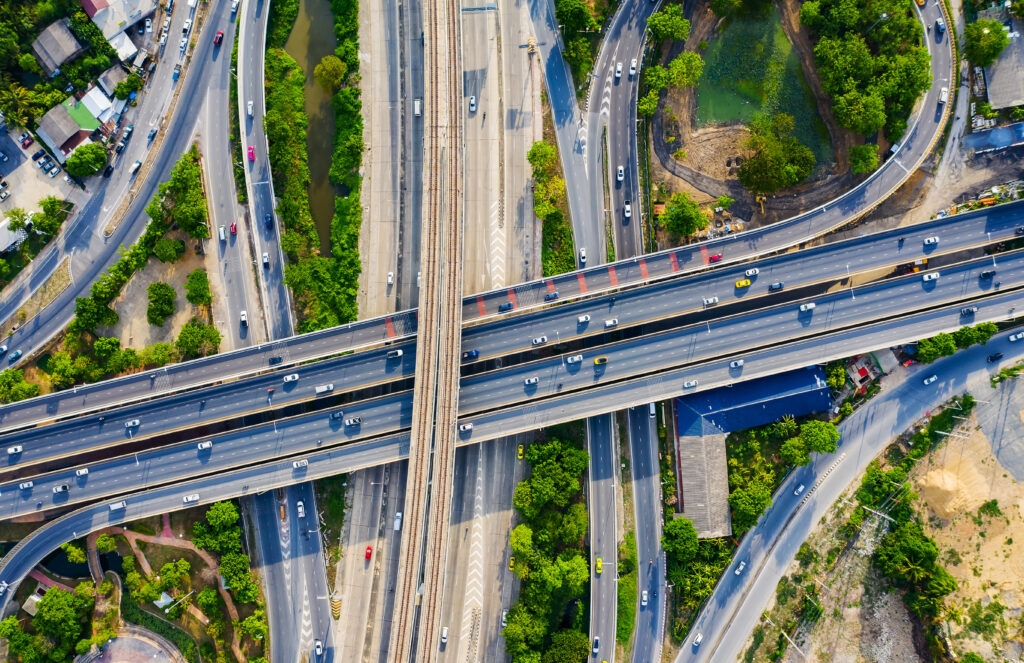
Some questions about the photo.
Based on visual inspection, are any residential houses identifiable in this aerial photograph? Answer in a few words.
Yes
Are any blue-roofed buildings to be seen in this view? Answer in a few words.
Yes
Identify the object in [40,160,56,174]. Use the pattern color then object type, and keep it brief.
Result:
blue car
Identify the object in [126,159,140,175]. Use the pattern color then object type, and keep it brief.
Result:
white vehicle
